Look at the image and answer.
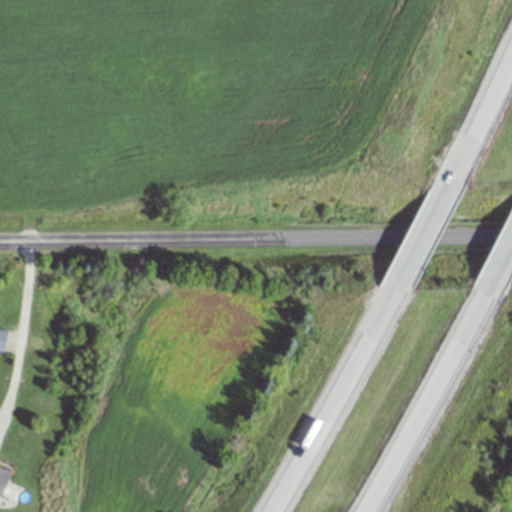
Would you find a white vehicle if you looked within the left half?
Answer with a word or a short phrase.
No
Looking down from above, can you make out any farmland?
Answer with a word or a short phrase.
Yes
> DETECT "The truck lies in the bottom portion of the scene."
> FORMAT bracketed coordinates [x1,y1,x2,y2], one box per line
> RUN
[298,418,324,456]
